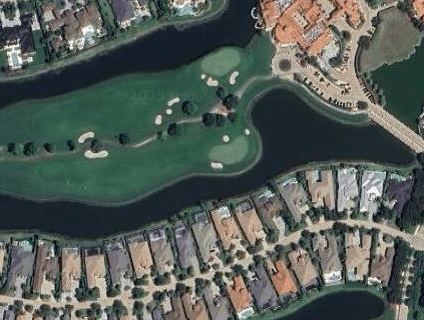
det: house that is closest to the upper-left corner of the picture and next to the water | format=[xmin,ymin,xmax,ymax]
[0,12,36,68]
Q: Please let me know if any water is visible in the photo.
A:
Yes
